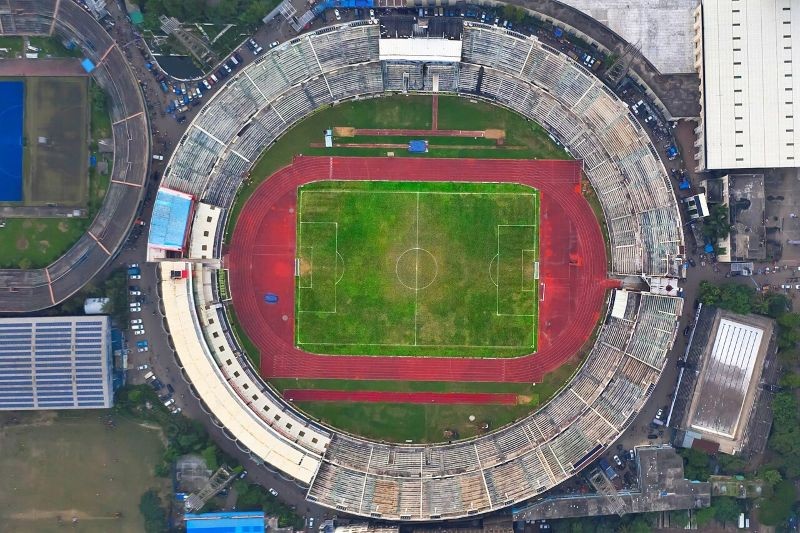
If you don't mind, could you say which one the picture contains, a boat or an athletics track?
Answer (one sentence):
This aerial view contains an athletics track.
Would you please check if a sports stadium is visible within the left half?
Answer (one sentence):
Yes, a sports stadium appears within the left half.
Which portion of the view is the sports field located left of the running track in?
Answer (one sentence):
The sports field located left of the running track is in the top left part of the image.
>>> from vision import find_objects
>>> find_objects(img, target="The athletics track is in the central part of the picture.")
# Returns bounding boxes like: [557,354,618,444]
[223,157,609,382]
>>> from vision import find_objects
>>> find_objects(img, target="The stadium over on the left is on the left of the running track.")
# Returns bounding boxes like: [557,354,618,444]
[0,0,158,315]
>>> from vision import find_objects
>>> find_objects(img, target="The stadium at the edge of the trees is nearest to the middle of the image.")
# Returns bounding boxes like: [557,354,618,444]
[146,8,686,521]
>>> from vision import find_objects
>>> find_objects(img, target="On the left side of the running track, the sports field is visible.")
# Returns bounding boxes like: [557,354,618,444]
[0,58,91,217]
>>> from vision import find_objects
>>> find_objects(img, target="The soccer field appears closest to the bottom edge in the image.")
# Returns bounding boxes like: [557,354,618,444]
[295,181,539,358]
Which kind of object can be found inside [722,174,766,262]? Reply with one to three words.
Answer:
building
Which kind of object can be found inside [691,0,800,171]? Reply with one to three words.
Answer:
building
